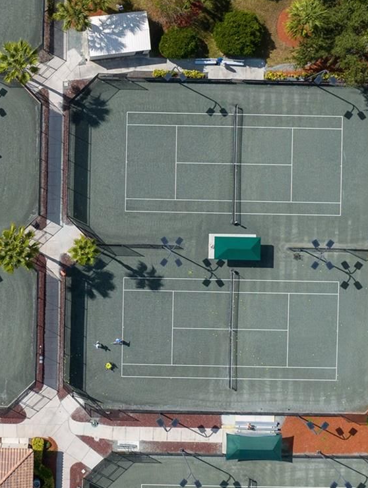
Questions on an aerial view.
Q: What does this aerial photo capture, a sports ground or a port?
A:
sports ground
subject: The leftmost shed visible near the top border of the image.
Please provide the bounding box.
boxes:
[87,11,150,58]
